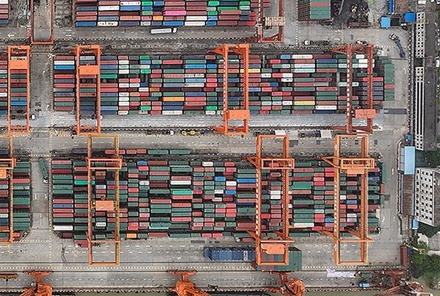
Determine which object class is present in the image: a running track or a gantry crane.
gantry crane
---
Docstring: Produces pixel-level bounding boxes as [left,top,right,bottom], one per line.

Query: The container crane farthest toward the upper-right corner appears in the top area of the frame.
[326,42,376,134]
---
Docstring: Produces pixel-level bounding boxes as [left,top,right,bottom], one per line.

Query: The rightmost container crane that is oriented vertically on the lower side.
[314,135,374,265]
